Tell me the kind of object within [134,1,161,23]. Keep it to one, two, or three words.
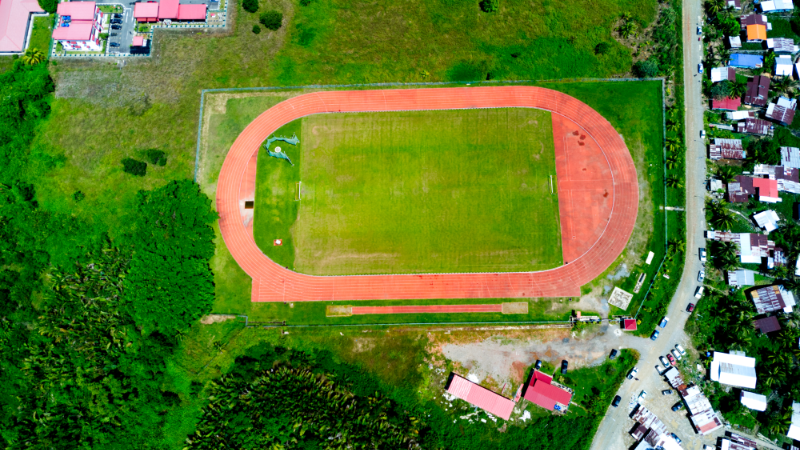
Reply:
building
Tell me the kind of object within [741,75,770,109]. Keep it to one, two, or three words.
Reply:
house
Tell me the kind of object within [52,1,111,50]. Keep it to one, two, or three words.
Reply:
building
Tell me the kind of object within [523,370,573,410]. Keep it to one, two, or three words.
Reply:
house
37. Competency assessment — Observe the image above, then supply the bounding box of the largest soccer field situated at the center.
[295,108,563,275]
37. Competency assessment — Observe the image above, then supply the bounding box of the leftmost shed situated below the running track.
[447,375,515,420]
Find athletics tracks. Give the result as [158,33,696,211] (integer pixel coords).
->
[216,86,639,302]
